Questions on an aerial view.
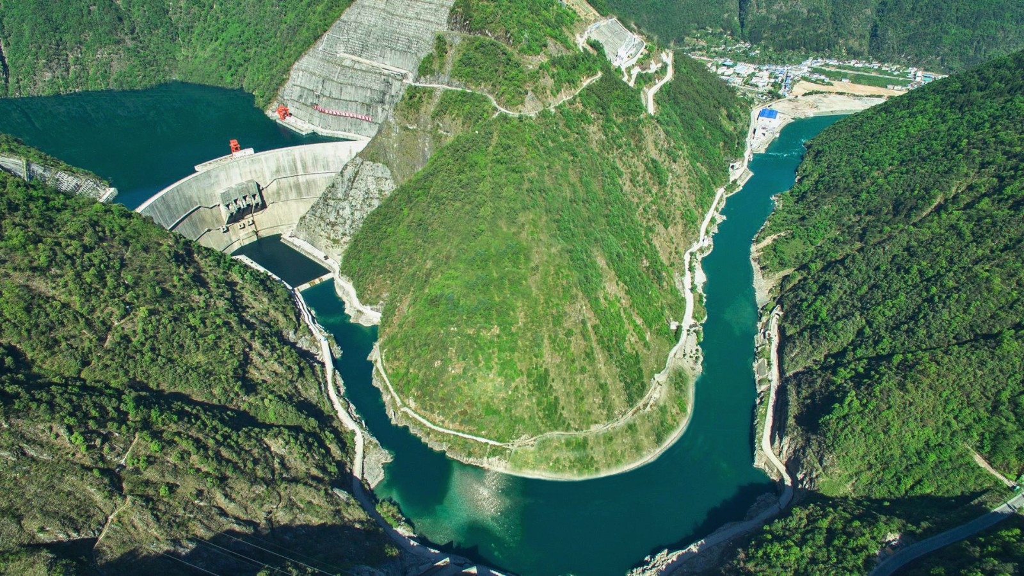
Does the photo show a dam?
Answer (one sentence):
Yes, a dam is visible in the scene.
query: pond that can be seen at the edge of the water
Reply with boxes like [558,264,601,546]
[0,81,341,213]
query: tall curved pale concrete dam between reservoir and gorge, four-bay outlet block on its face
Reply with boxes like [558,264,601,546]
[128,138,379,251]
